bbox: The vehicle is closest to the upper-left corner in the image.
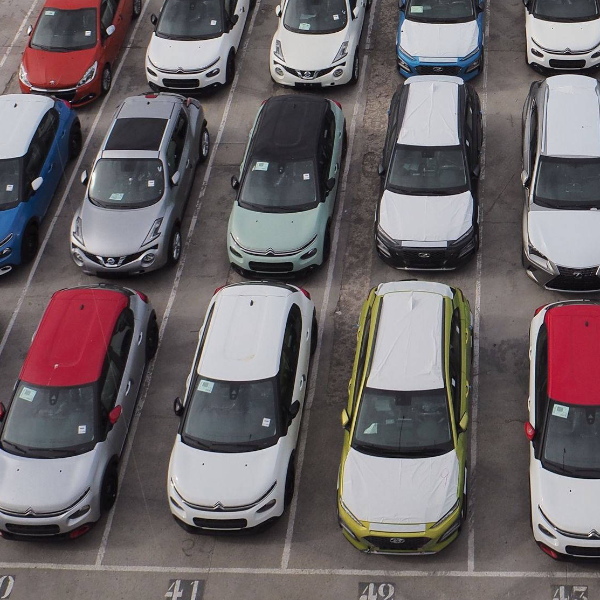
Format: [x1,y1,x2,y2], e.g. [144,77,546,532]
[21,0,143,103]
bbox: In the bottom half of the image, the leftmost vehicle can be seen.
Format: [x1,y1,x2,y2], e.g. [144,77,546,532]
[0,279,159,538]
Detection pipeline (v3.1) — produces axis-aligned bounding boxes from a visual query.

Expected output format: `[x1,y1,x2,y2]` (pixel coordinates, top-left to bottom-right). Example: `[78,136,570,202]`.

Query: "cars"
[522,0,600,74]
[0,279,159,538]
[228,92,347,277]
[273,0,370,92]
[146,0,256,92]
[0,91,86,274]
[524,295,600,561]
[21,0,143,103]
[169,275,318,533]
[336,281,473,559]
[73,99,211,280]
[397,0,485,84]
[374,76,482,273]
[520,79,600,293]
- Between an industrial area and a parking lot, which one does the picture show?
parking lot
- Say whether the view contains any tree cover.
No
